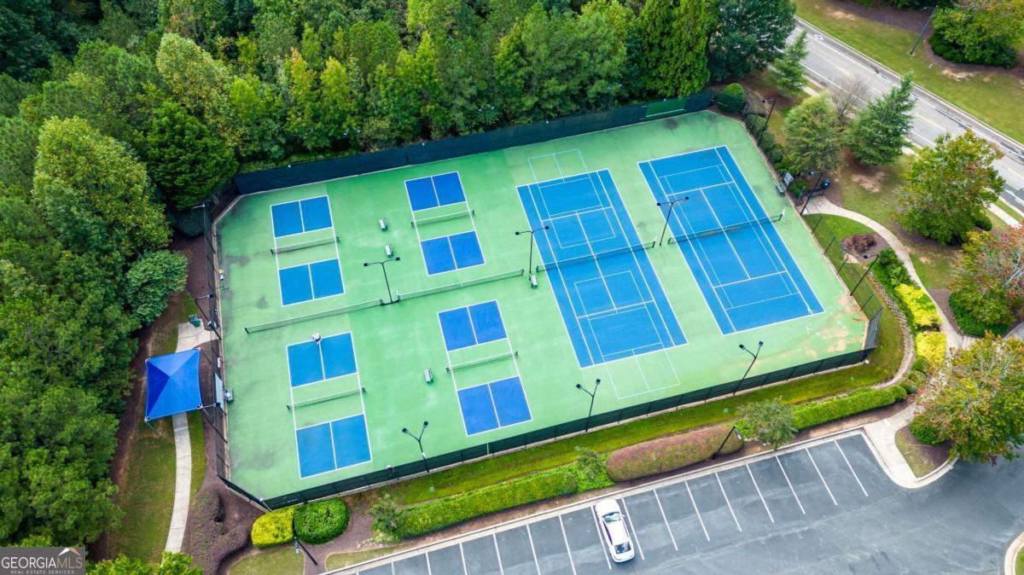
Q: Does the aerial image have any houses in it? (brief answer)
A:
No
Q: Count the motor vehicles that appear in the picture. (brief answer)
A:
1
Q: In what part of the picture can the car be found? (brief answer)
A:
bottom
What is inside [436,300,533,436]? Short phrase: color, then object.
blue sports court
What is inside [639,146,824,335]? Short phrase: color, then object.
blue tennis court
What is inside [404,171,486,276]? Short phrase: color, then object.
blue sports court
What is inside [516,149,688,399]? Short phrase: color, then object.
blue tennis court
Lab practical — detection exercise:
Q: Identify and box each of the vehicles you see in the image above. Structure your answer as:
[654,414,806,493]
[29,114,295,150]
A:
[599,496,634,561]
